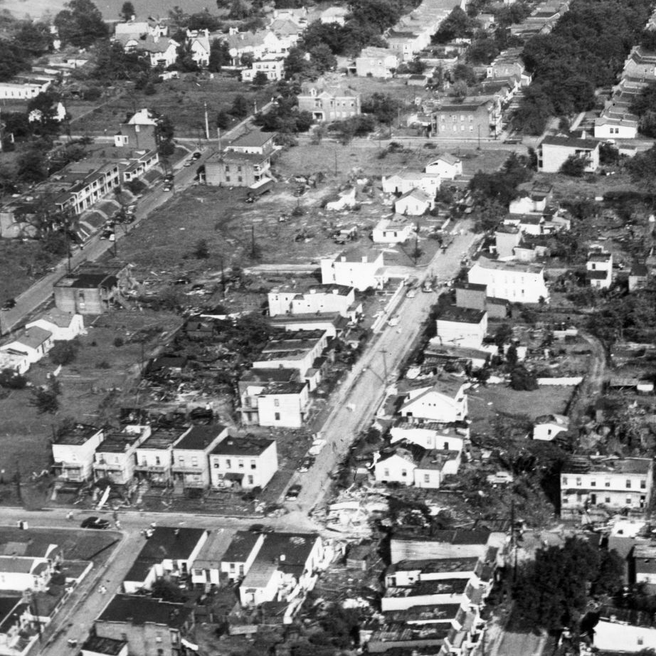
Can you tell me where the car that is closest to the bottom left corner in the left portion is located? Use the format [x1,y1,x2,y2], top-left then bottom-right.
[81,516,110,528]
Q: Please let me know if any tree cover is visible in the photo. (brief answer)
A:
Yes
